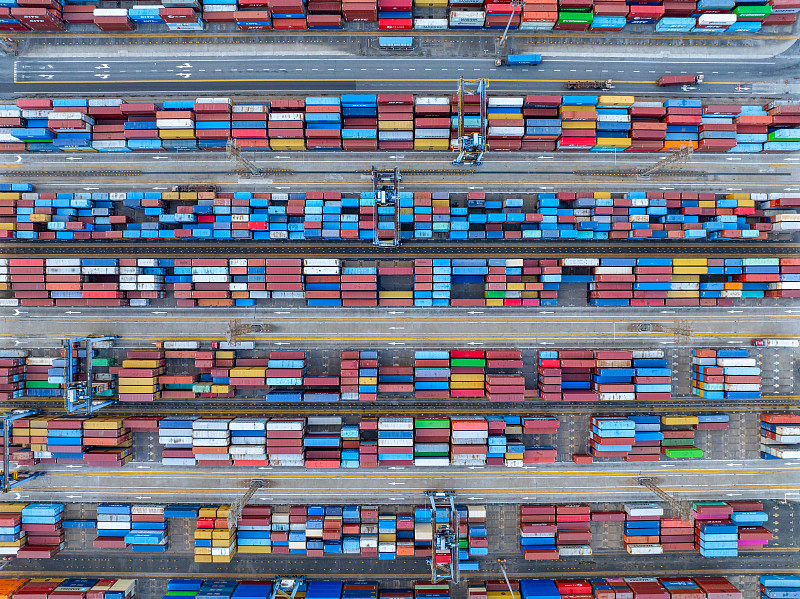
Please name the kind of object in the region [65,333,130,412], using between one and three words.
container crane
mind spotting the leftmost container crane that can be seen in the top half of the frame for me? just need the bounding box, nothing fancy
[365,166,408,250]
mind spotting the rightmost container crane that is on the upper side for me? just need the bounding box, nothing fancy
[445,77,488,167]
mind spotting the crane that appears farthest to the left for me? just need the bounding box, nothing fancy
[0,408,54,505]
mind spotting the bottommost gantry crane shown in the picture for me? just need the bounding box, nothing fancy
[267,573,312,599]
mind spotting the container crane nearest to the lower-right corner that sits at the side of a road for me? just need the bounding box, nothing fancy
[419,490,462,590]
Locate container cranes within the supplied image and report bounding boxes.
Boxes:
[267,573,312,599]
[445,77,488,167]
[65,333,130,412]
[419,490,462,590]
[0,408,54,505]
[365,166,408,250]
